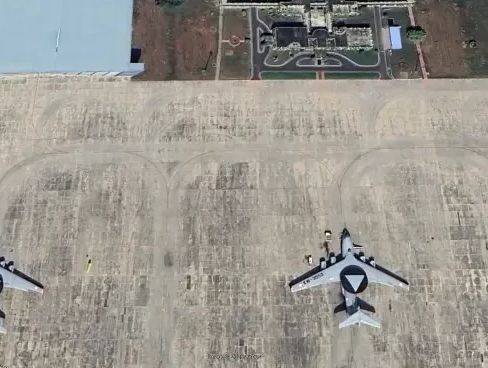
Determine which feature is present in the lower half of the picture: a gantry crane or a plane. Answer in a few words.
plane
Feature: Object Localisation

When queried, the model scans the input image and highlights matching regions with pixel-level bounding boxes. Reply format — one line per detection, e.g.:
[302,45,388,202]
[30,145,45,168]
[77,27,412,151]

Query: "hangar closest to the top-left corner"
[0,0,146,77]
